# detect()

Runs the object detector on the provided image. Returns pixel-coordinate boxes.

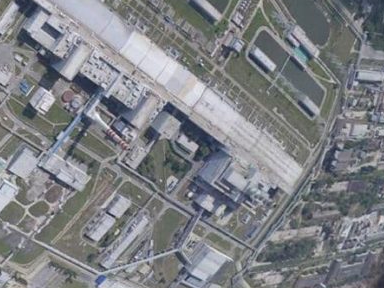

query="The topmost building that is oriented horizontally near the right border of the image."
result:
[351,70,384,82]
